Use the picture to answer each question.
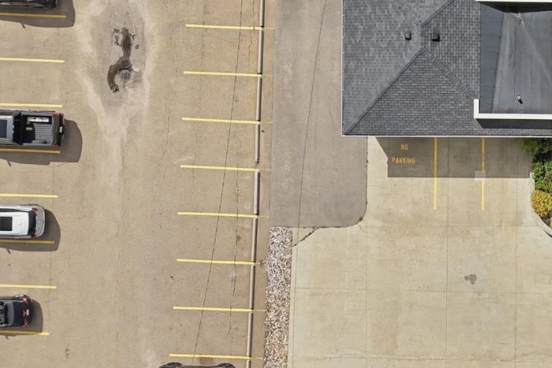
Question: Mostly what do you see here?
paved ground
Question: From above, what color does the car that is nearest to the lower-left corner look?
black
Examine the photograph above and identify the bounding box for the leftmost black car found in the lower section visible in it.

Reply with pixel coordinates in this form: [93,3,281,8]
[0,293,36,328]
